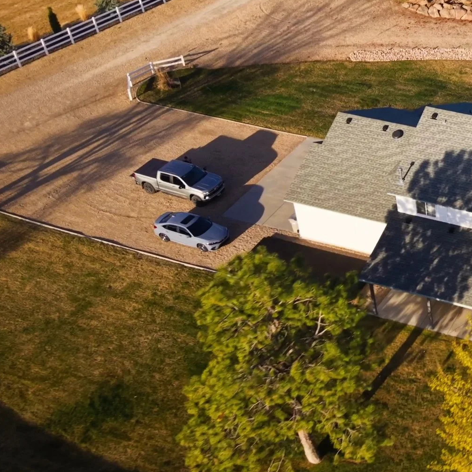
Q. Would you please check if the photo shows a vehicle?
Yes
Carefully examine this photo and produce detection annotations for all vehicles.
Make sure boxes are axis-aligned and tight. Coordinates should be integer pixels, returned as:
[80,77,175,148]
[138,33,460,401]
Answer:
[132,158,231,205]
[149,210,231,252]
